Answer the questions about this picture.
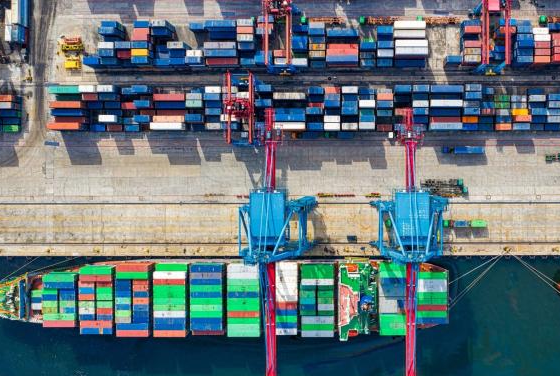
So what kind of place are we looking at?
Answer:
port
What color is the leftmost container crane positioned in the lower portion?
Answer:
blue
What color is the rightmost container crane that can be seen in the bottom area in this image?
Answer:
blue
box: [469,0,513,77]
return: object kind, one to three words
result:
container crane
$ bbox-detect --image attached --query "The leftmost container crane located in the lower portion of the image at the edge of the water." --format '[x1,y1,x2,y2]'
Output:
[237,110,318,376]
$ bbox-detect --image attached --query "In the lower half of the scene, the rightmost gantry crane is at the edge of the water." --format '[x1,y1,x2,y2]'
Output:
[367,109,451,376]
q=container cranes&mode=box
[367,109,451,376]
[237,110,318,376]
[469,0,513,77]
[224,71,265,150]
[261,0,300,78]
